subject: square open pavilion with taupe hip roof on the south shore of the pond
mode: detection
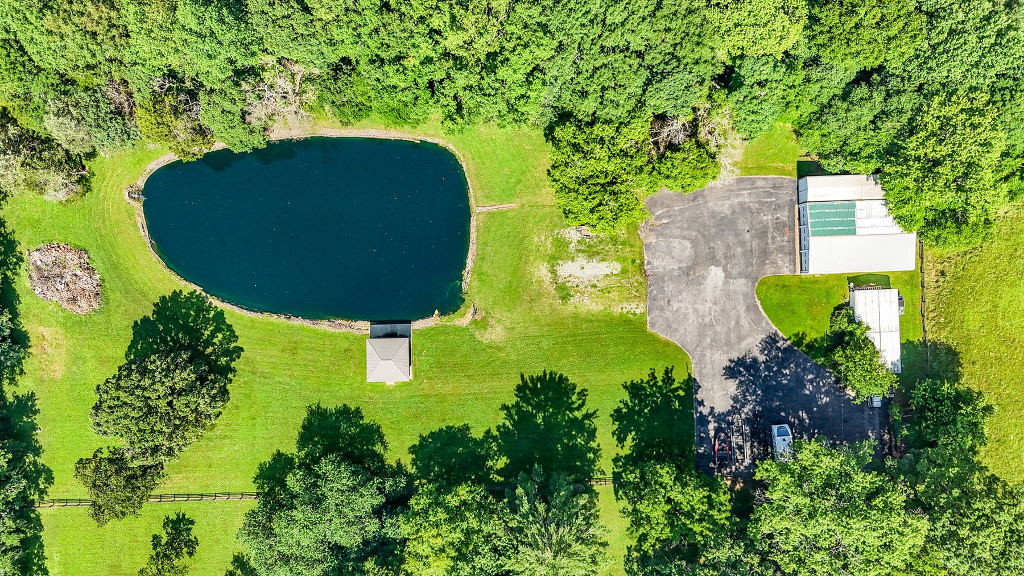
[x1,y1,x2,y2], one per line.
[366,320,413,385]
